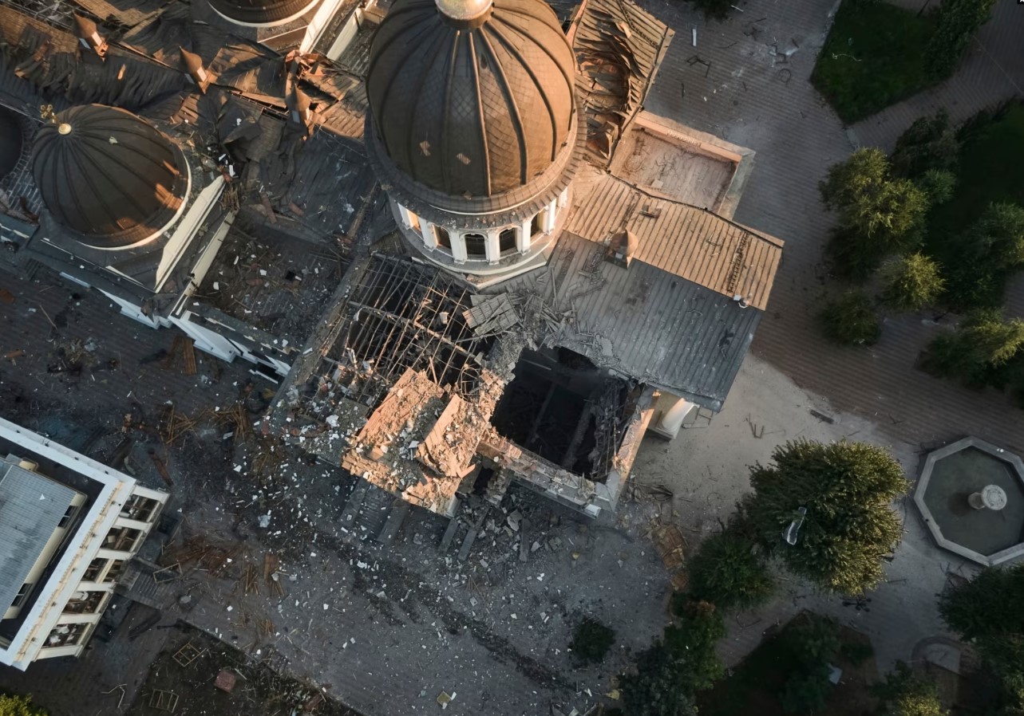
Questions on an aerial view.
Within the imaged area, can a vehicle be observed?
No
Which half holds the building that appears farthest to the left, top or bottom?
bottom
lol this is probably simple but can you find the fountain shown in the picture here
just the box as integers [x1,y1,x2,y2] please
[912,436,1024,569]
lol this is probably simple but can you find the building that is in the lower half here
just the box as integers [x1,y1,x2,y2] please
[0,422,190,666]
